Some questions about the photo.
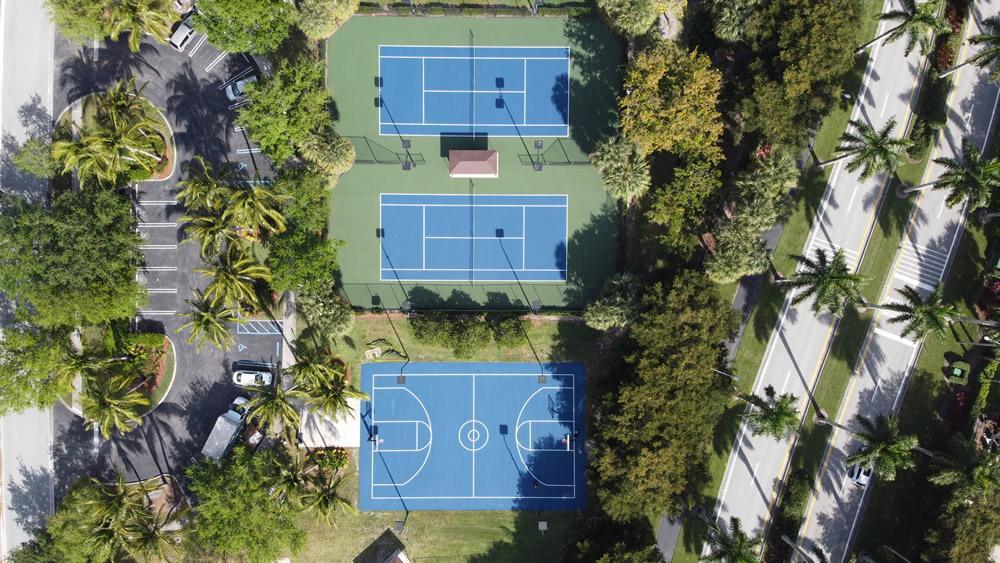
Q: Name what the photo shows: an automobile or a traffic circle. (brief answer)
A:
automobile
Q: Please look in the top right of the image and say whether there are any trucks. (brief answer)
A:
No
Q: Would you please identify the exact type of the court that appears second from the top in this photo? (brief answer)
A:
tennis court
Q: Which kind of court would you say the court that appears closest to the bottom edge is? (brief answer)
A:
basketball court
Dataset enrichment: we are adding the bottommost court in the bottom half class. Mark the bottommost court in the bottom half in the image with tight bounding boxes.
[359,362,586,510]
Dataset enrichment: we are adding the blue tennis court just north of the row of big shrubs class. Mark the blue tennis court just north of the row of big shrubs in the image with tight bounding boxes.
[380,193,567,282]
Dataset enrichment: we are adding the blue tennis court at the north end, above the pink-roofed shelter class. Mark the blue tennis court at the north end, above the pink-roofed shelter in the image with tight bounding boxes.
[379,46,569,137]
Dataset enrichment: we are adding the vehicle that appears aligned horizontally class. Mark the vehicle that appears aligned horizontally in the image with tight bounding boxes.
[232,373,271,391]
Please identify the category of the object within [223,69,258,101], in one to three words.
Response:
car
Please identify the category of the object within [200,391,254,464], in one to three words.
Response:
truck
